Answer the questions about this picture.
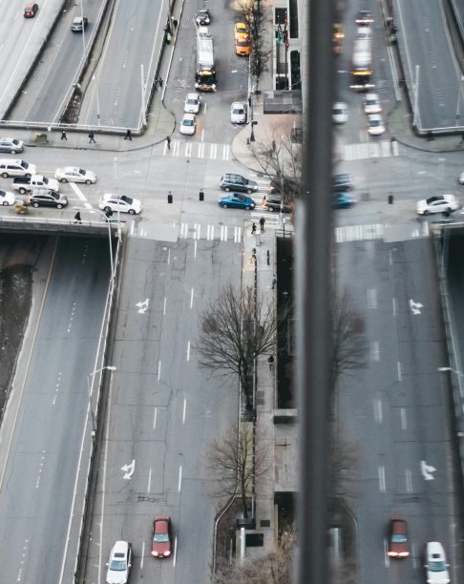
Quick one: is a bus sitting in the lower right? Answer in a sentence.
No, the scene shows no bus in the lower right.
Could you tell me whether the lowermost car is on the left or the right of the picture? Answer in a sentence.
You can find the lowermost car on the left side of the picture.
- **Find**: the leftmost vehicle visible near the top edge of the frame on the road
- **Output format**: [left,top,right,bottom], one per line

[22,3,39,20]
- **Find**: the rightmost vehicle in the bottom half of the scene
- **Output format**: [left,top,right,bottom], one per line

[148,517,173,559]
